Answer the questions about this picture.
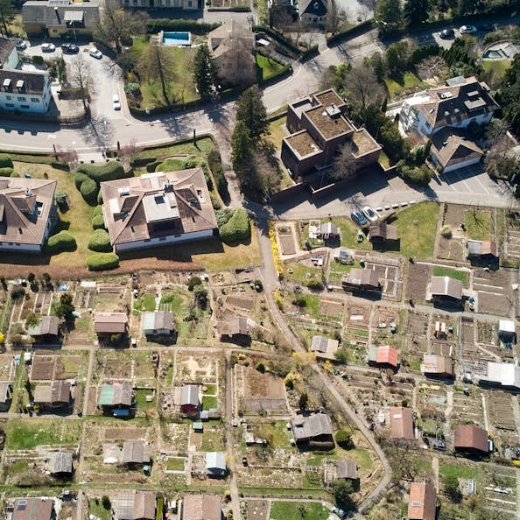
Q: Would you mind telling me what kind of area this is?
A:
residential area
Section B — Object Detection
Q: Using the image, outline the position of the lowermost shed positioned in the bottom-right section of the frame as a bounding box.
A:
[409,483,438,520]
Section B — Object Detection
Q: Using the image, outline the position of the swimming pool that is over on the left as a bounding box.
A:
[160,32,194,45]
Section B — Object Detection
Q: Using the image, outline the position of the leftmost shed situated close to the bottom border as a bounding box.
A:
[13,497,57,520]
